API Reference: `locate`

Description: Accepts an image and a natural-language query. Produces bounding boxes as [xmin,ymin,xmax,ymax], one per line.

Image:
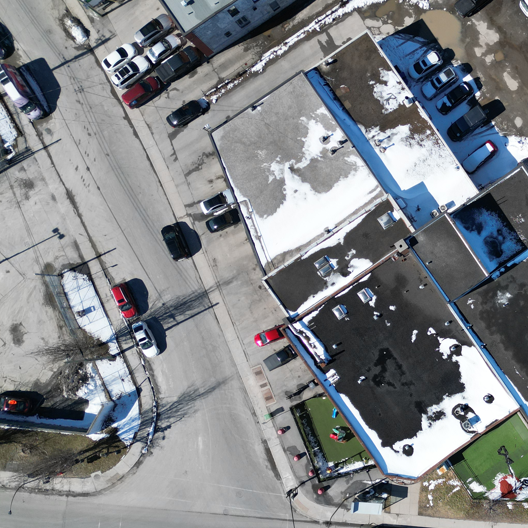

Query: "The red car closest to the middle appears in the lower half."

[254,323,289,348]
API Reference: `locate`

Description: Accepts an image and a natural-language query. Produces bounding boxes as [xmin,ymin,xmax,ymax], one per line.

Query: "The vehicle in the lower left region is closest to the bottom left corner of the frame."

[0,394,31,412]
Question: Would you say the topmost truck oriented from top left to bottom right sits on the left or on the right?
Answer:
left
